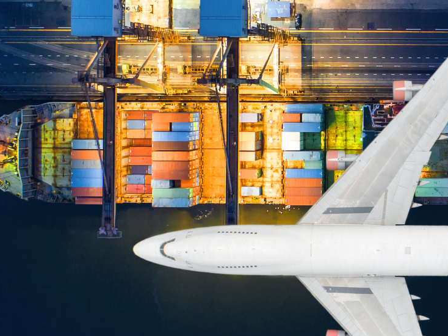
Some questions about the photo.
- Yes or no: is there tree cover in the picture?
No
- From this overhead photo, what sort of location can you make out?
port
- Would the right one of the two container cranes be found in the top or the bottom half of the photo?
top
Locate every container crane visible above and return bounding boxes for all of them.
[69,0,208,236]
[192,0,321,226]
